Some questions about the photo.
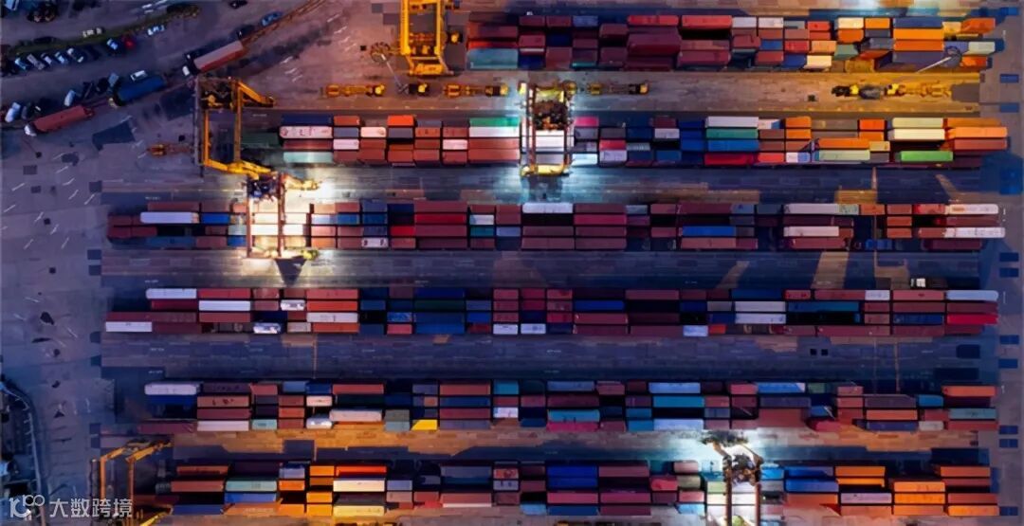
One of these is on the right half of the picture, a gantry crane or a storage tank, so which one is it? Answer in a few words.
gantry crane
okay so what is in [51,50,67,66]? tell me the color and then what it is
blue car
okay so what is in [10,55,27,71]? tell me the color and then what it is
blue car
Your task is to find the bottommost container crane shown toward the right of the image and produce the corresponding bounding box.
[695,437,764,526]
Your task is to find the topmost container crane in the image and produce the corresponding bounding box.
[404,0,461,79]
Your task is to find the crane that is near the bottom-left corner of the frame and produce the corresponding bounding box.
[94,435,181,526]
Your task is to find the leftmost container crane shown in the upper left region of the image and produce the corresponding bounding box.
[198,74,281,179]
